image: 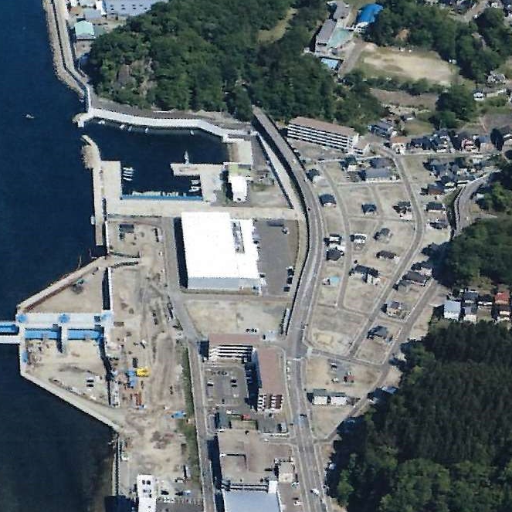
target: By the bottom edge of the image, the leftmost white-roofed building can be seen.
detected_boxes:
[135,475,156,512]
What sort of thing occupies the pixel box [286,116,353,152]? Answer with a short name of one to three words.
building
